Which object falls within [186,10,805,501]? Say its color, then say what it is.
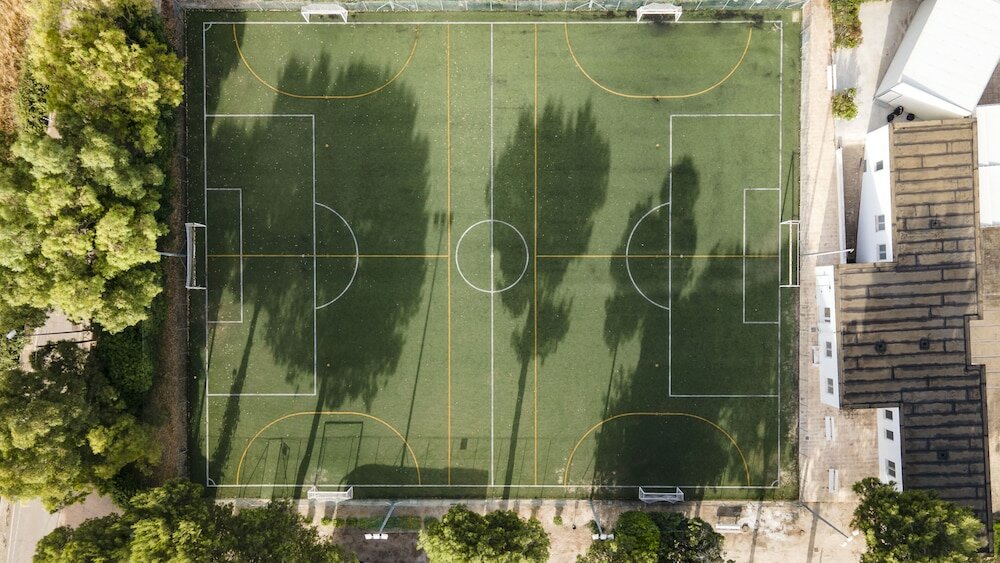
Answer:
green soccer field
